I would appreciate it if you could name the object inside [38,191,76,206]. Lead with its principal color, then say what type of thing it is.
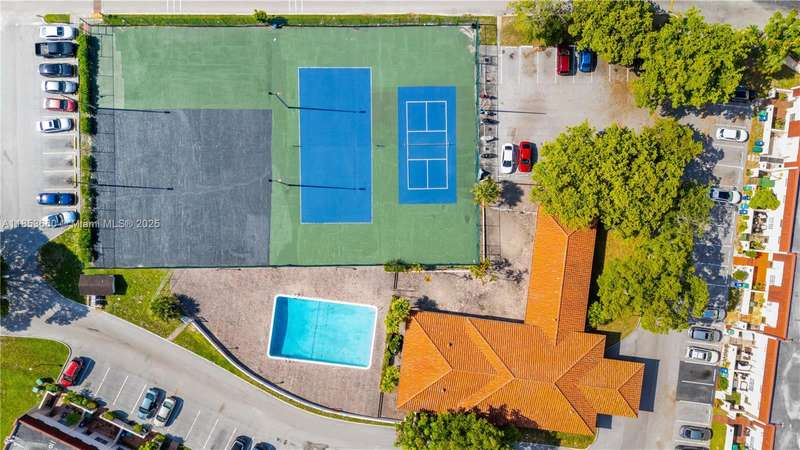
blue car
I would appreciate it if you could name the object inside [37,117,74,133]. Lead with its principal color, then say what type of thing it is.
white car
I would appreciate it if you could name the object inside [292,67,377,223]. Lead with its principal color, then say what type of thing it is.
blue tennis court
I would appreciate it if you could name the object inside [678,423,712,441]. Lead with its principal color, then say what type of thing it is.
gray car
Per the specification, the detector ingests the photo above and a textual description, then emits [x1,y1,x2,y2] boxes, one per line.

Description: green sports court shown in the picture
[89,26,477,264]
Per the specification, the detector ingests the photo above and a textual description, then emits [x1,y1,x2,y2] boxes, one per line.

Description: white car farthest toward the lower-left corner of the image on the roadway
[153,395,177,427]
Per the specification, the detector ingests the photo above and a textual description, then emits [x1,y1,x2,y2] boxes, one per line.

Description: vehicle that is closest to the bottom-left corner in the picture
[59,355,85,387]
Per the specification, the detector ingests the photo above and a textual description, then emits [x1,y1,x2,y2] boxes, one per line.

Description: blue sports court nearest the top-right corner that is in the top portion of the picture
[398,86,456,204]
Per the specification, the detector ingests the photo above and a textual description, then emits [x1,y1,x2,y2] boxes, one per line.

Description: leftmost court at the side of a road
[90,109,271,264]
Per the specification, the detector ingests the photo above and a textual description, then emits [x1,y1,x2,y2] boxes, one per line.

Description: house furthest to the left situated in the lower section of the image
[5,408,80,450]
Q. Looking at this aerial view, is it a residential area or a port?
residential area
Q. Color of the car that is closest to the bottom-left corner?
red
